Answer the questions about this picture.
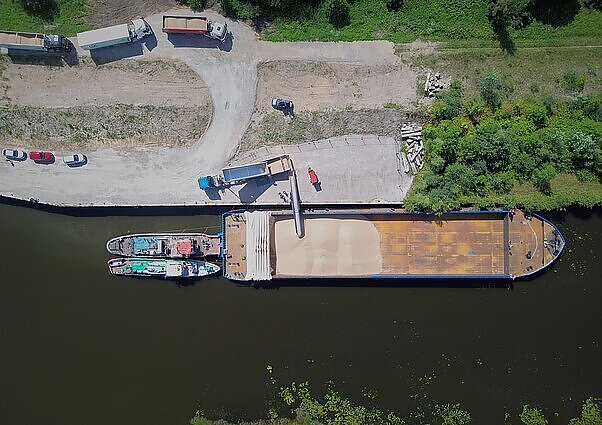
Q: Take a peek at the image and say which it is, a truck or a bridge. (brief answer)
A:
truck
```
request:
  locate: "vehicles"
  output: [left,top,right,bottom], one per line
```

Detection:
[162,17,228,43]
[77,19,151,52]
[62,153,86,163]
[0,31,73,55]
[270,98,293,110]
[198,160,270,193]
[1,150,26,160]
[29,152,53,162]
[307,169,320,183]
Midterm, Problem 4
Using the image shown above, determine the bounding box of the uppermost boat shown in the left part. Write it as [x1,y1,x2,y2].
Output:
[106,232,222,259]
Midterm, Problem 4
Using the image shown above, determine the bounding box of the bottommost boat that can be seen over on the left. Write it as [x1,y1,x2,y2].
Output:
[108,257,219,277]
